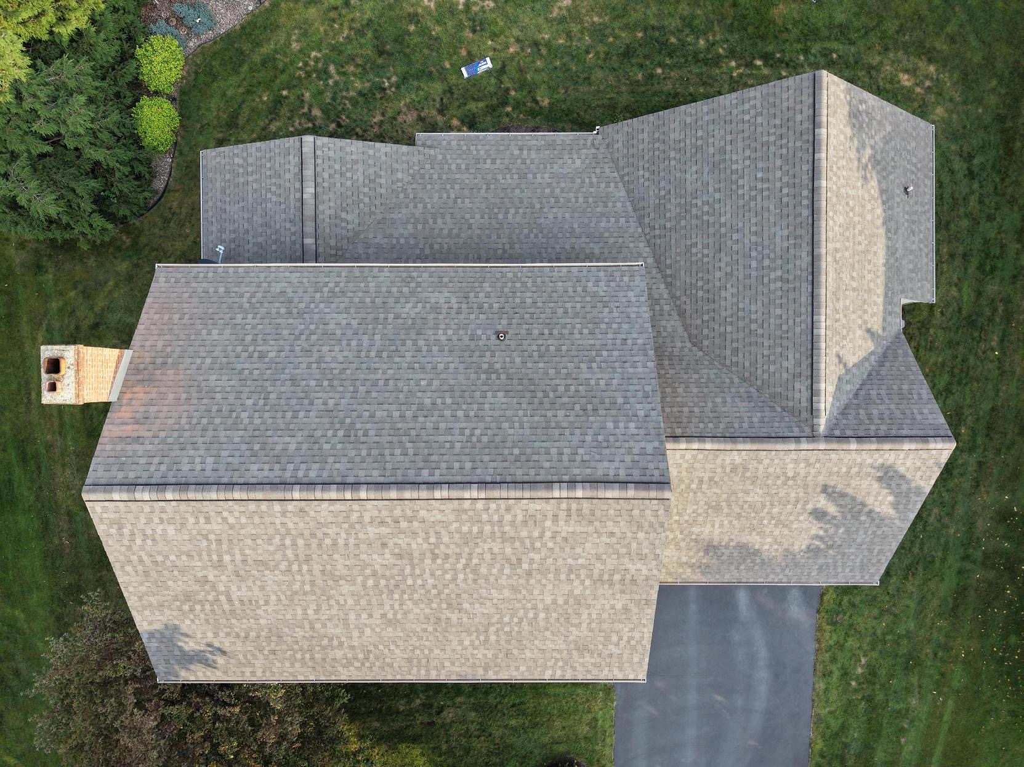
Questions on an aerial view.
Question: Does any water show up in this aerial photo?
No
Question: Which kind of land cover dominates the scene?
buildings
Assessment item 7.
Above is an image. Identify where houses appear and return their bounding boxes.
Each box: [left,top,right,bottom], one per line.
[43,71,956,683]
